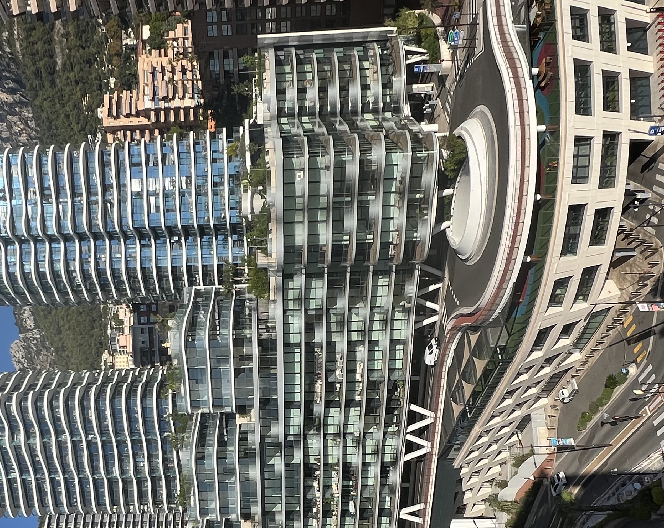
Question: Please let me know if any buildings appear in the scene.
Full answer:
Yes, I can see a building in this picture.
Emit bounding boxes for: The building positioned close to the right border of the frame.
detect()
[454,0,654,471]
